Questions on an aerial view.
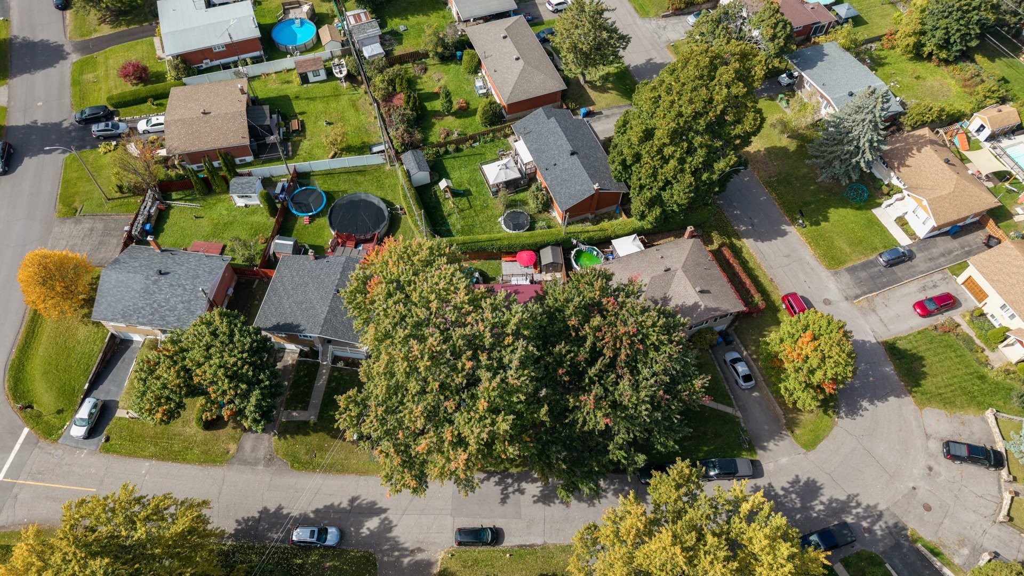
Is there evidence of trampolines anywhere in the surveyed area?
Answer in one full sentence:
Yes, I can see a trampoline in this picture.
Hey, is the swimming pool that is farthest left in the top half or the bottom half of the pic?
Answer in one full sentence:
You can find the swimming pool that is farthest left in the top half.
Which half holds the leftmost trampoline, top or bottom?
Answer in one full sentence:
The leftmost trampoline is in the top half of the image.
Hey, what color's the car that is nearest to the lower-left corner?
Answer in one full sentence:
From above, the car that is nearest to the lower-left corner appears white.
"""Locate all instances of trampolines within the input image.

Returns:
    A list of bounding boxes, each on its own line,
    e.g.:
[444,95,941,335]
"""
[284,178,328,221]
[502,202,530,232]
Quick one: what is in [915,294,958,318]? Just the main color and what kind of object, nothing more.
red car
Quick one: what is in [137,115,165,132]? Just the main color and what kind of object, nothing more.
white car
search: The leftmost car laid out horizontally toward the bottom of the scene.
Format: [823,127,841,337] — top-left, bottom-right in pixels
[287,522,342,547]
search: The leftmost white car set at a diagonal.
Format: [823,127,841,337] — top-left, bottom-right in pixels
[69,395,107,439]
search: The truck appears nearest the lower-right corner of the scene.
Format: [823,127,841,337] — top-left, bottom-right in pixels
[944,440,1005,470]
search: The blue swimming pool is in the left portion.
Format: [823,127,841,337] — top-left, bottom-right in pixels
[269,18,320,55]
